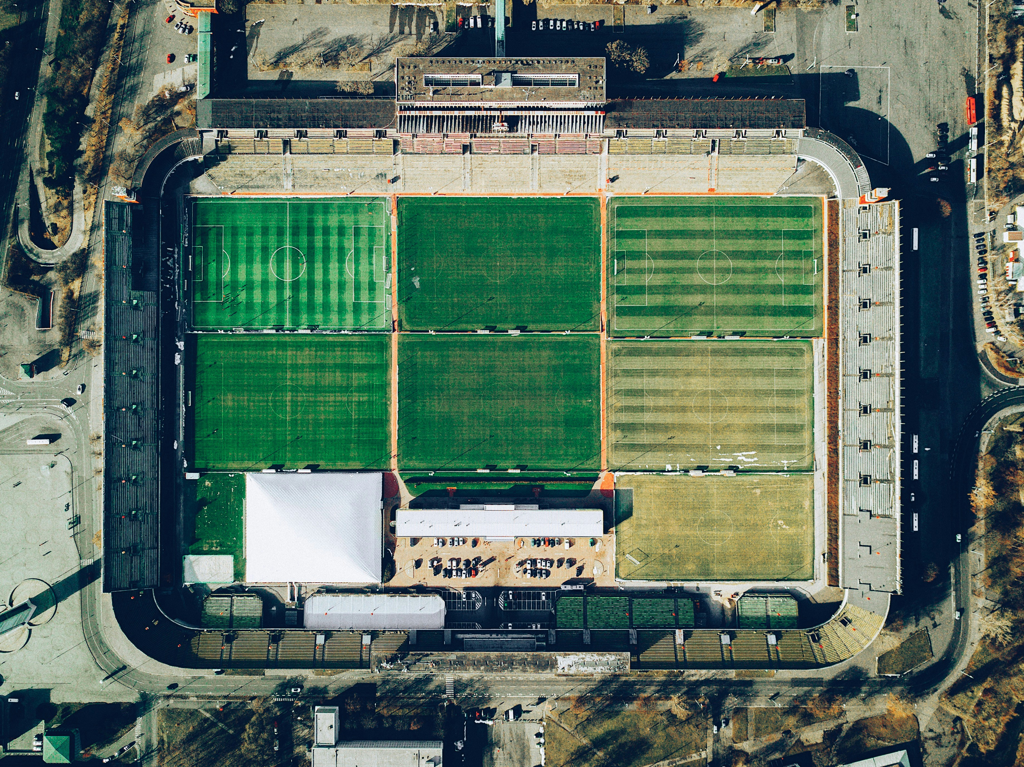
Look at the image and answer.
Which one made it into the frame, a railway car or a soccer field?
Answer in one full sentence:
Looking from above, you can make out a soccer field.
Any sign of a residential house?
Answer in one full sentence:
Yes, the frame does contain a residential house.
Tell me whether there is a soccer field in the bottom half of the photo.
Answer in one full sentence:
Yes, a soccer field can be seen in the bottom half of the photo.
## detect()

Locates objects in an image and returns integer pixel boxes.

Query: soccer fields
[616,473,813,580]
[606,339,813,472]
[606,197,822,338]
[185,196,392,332]
[185,333,392,472]
[398,197,600,332]
[398,333,600,472]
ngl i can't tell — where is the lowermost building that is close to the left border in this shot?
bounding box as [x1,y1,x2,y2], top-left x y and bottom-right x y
[43,718,94,763]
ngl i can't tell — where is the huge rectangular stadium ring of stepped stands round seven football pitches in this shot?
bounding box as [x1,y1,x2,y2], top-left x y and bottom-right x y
[102,96,906,671]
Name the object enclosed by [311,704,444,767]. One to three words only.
building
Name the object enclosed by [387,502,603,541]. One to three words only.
building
